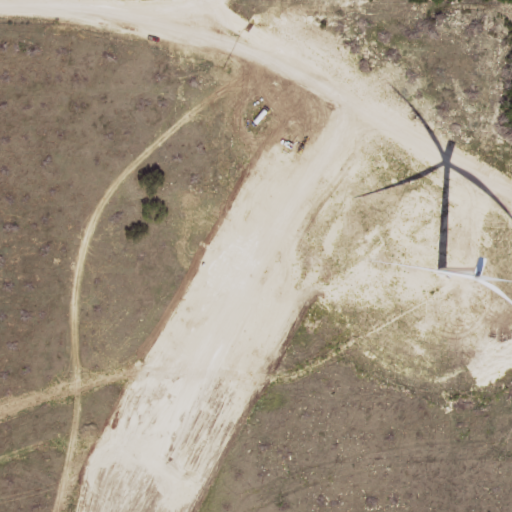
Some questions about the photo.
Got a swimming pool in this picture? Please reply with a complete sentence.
No, the picture doesn't show any swimming pool.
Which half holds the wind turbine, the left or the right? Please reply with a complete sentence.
The wind turbine is on the right side of the image.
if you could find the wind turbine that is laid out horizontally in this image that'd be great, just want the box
[363,256,512,307]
